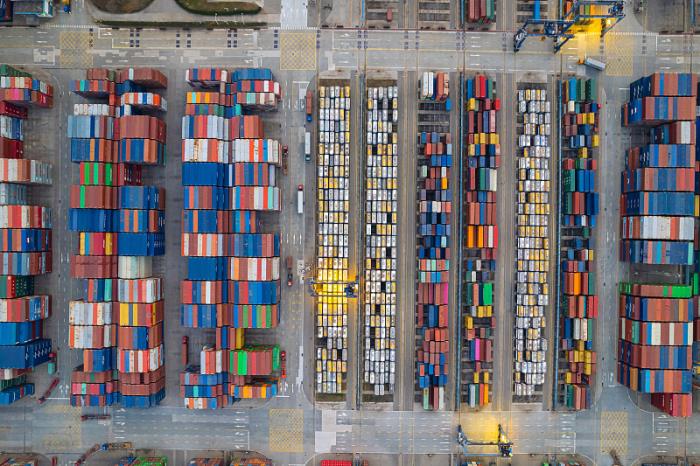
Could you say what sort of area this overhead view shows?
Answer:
industrial area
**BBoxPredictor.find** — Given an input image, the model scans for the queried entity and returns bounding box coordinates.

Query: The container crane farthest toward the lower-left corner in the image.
[310,276,362,299]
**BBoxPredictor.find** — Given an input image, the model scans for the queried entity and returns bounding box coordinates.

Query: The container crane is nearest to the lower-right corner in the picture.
[459,422,517,457]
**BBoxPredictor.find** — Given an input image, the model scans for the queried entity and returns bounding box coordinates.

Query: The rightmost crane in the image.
[563,0,630,38]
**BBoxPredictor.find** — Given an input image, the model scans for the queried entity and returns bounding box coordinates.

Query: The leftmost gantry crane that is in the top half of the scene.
[514,18,577,53]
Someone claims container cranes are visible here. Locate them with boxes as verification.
[310,276,362,299]
[563,0,630,38]
[514,18,577,53]
[459,422,517,457]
